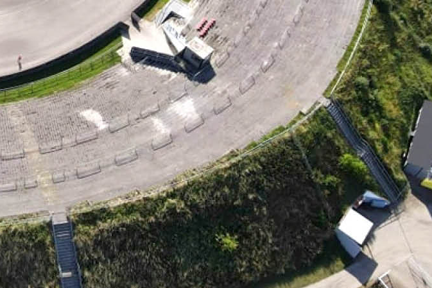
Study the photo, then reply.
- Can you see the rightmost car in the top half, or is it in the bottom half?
bottom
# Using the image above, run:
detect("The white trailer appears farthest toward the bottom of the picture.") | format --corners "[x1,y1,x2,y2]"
[331,208,374,254]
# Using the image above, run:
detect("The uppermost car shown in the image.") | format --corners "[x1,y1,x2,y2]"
[363,193,394,215]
